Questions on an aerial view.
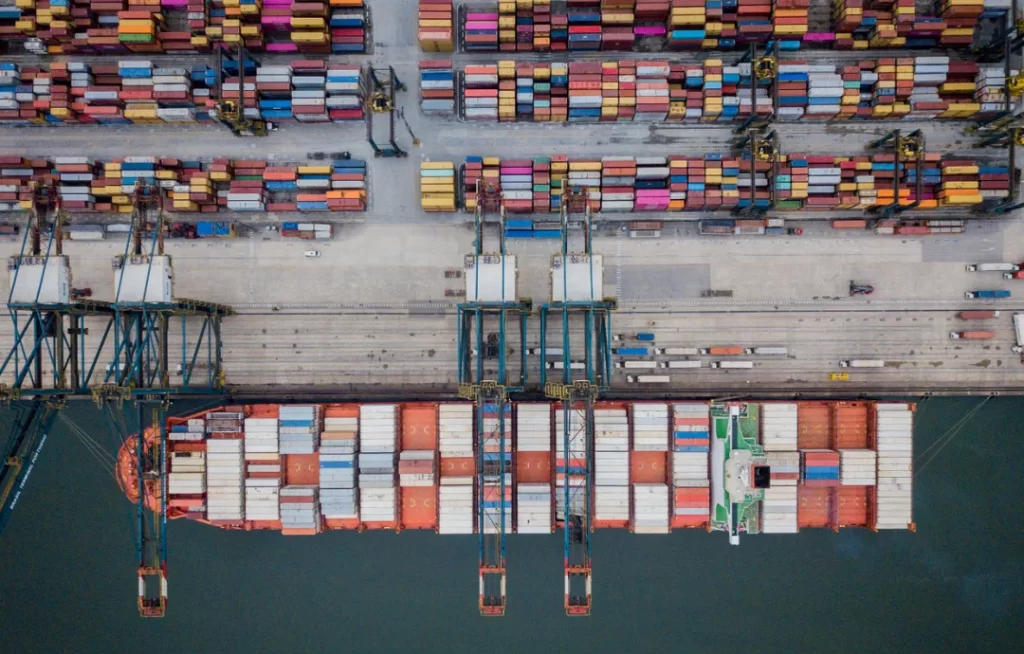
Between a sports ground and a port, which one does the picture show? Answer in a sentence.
What you see here is a port.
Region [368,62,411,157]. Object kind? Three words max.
container crane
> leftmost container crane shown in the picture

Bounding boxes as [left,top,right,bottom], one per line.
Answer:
[0,179,160,529]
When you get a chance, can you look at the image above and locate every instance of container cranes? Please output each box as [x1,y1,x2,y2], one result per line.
[106,179,250,614]
[456,179,533,614]
[368,62,411,157]
[726,128,780,224]
[729,44,783,146]
[861,128,927,224]
[0,179,160,529]
[972,127,1024,223]
[971,0,1024,51]
[967,37,1024,139]
[213,45,270,147]
[531,179,616,614]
